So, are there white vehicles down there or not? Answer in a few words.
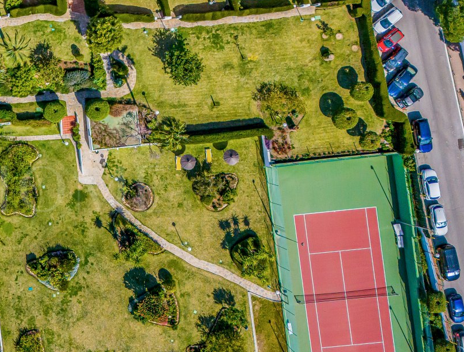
Yes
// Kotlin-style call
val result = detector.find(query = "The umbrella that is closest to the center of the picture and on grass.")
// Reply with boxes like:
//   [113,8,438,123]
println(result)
[223,149,239,165]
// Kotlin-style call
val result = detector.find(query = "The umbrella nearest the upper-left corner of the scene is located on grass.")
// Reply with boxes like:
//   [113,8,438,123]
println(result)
[180,154,196,170]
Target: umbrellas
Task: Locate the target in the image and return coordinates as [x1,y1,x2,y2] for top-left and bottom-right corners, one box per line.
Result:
[180,154,196,170]
[223,149,239,165]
